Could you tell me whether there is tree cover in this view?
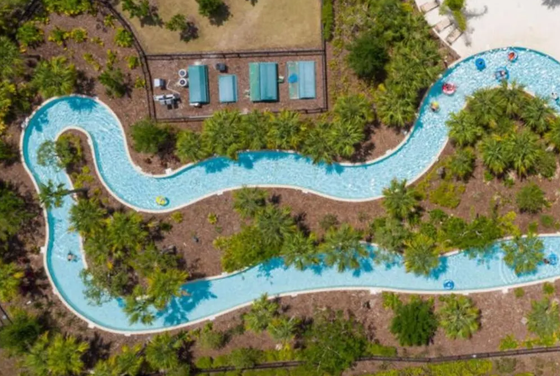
Yes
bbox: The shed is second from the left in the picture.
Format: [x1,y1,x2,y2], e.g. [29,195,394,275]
[219,75,239,102]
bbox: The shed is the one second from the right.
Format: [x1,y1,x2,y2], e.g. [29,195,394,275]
[249,62,280,101]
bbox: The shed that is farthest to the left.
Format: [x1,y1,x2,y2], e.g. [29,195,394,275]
[188,65,215,103]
